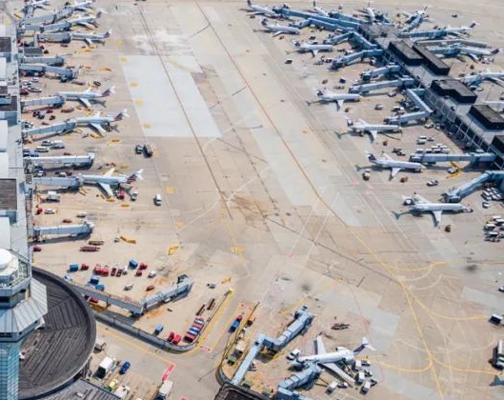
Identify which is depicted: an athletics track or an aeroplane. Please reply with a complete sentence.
The one in the frame is an aeroplane.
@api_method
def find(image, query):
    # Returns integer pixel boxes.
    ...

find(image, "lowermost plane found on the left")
[76,169,131,192]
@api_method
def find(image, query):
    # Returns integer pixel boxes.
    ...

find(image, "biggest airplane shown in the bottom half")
[290,337,365,378]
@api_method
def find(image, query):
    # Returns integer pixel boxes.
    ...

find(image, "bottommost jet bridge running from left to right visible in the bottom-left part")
[63,273,193,324]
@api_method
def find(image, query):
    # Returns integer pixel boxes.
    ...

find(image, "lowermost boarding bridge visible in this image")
[274,362,320,400]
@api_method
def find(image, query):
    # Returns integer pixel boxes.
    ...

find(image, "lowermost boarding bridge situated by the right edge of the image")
[443,171,502,213]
